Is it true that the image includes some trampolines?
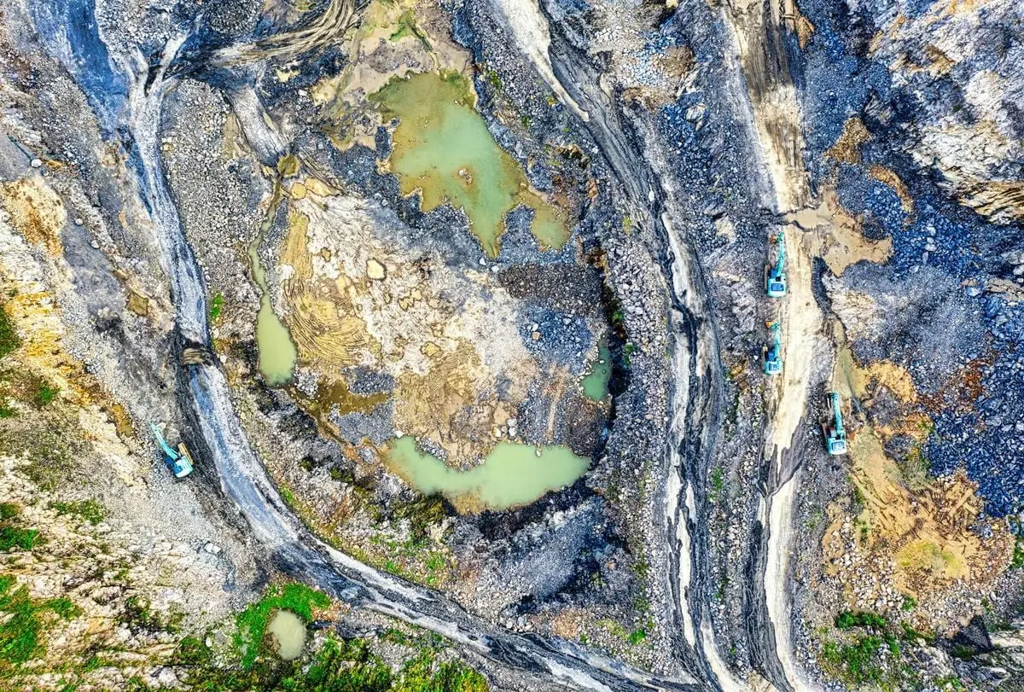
No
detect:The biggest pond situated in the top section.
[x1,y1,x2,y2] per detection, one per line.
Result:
[371,76,568,258]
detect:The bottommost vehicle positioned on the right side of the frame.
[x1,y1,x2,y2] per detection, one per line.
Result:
[822,396,851,459]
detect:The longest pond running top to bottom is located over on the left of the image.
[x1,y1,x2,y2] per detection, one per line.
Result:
[250,185,298,385]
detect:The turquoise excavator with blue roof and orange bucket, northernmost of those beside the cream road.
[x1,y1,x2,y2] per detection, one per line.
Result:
[763,228,791,298]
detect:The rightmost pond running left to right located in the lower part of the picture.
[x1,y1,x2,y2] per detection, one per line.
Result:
[389,435,585,514]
